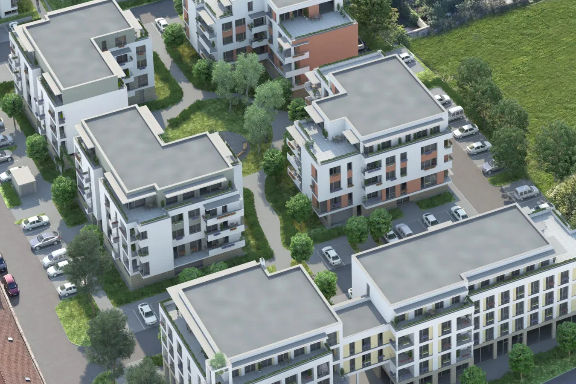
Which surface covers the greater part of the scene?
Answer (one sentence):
What you mostly see from above here is buildings.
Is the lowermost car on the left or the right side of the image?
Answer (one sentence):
The lowermost car sits on the left side.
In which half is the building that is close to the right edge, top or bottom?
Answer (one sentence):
It is in the bottom half that the building that is close to the right edge appears.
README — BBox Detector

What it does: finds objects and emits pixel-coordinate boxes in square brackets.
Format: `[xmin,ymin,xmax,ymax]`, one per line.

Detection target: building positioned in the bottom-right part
[352,203,576,384]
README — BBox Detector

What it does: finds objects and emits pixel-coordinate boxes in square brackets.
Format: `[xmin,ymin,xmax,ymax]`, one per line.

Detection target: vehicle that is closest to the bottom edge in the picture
[138,303,158,325]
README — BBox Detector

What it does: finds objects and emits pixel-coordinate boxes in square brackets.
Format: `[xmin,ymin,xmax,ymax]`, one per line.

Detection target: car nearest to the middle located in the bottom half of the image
[320,246,341,267]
